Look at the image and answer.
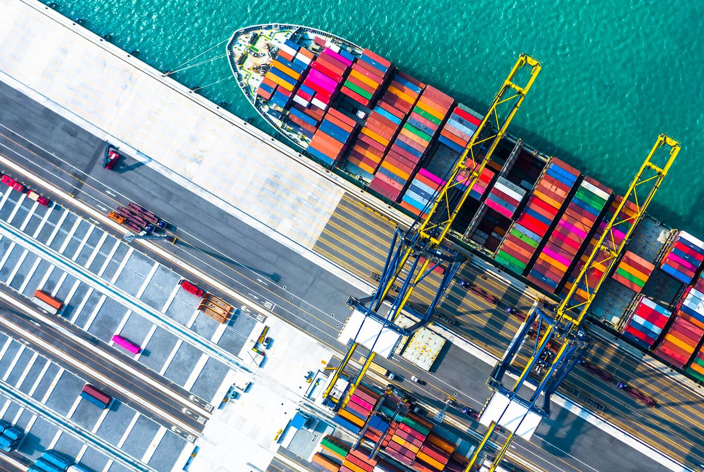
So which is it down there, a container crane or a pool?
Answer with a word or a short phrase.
container crane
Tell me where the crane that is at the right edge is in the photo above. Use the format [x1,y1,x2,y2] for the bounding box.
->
[463,133,682,472]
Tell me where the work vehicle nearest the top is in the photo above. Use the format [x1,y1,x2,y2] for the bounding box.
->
[96,136,121,171]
